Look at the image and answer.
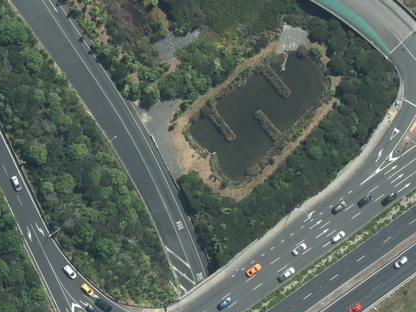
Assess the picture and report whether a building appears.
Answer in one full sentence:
No, no building is visible in the scene.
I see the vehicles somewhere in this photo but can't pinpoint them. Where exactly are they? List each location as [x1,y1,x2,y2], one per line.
[348,304,363,312]
[330,230,346,244]
[80,282,95,296]
[95,298,112,312]
[357,194,373,208]
[10,175,22,191]
[394,256,409,268]
[278,268,296,282]
[62,264,77,280]
[292,242,307,256]
[84,304,99,312]
[332,202,347,215]
[382,193,398,206]
[246,264,262,277]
